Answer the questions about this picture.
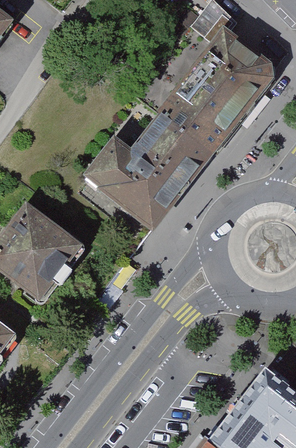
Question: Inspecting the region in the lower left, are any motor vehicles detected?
Yes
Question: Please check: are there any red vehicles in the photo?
Yes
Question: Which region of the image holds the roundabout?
right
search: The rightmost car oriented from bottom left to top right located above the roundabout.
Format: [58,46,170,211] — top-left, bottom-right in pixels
[270,75,290,97]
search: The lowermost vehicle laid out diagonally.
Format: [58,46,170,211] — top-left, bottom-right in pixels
[108,423,128,444]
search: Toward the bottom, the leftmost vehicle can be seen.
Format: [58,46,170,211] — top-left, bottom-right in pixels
[54,394,72,414]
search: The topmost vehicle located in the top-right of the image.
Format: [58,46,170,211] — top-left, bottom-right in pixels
[220,0,242,16]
